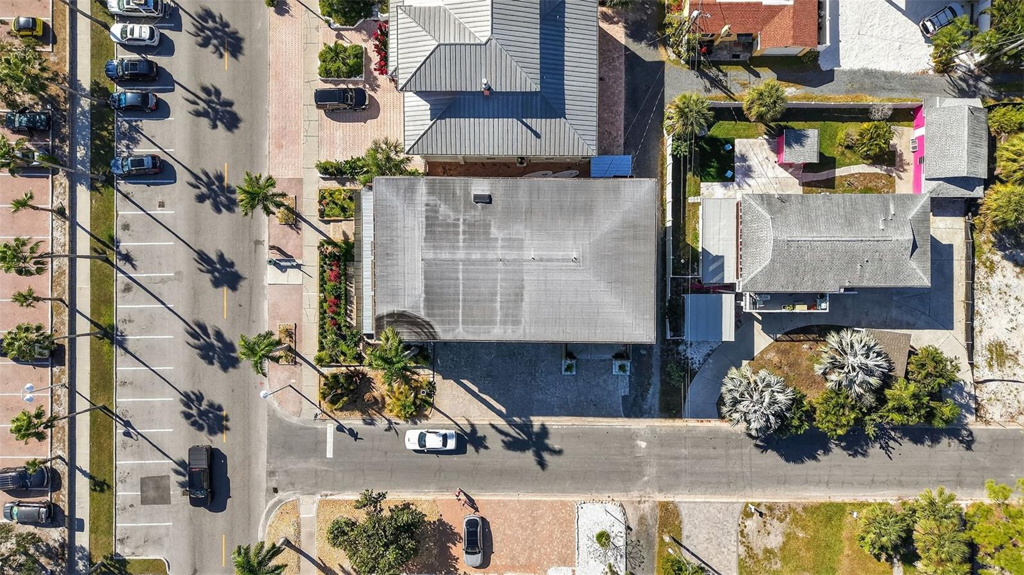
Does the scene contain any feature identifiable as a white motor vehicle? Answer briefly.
Yes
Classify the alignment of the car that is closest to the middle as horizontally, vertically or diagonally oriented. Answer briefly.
horizontally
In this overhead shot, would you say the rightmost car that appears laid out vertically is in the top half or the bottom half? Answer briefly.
bottom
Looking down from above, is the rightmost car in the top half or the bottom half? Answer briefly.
top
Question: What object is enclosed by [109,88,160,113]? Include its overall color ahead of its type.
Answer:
black car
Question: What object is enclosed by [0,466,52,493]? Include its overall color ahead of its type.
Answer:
black car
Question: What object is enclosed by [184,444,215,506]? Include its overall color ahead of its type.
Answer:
black truck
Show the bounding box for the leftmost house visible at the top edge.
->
[388,0,599,167]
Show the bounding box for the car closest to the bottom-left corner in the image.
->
[1,500,54,526]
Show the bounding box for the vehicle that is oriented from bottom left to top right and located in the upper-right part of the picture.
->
[913,0,965,40]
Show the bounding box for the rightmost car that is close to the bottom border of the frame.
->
[461,514,486,568]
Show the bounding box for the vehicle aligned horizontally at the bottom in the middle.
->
[405,427,458,453]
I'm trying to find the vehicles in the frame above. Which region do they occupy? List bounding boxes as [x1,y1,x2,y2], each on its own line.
[913,0,965,40]
[9,14,44,38]
[110,152,164,177]
[103,54,160,83]
[106,0,165,19]
[1,500,54,526]
[184,444,215,506]
[109,88,160,113]
[312,86,368,113]
[461,514,486,568]
[109,20,161,48]
[4,109,53,133]
[0,466,52,493]
[405,427,458,453]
